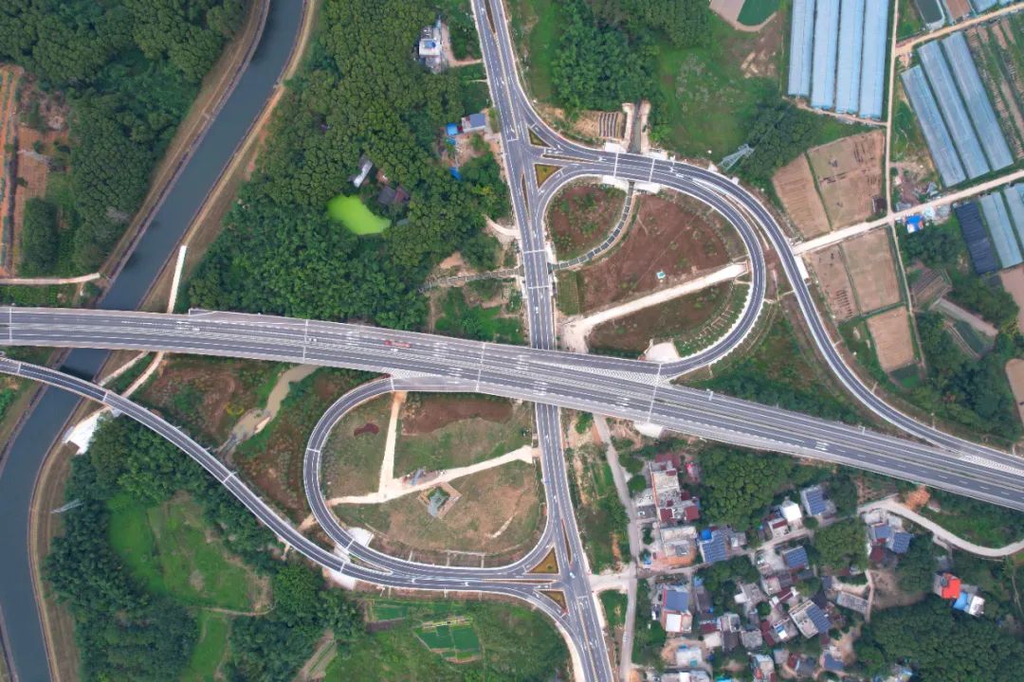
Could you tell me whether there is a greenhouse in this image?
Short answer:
Yes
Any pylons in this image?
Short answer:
Yes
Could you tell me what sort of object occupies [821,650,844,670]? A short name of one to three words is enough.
house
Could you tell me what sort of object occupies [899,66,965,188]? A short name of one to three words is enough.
greenhouse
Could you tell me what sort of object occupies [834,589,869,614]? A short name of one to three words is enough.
barn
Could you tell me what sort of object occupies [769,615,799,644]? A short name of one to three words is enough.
house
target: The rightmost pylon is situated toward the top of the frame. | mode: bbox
[717,141,752,171]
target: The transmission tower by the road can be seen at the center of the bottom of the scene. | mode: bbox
[430,487,451,516]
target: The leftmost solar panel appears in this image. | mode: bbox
[703,539,725,562]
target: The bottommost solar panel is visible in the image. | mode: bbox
[807,605,831,632]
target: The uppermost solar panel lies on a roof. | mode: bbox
[807,490,826,514]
